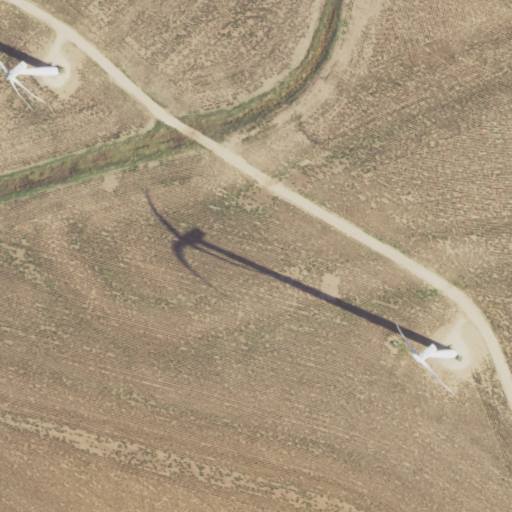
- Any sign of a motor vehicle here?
No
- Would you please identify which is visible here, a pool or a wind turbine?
wind turbine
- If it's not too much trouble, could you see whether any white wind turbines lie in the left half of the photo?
Yes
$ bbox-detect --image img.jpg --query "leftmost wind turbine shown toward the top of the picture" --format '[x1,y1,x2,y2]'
[0,60,59,110]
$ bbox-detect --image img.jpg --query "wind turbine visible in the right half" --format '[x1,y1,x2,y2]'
[392,316,458,399]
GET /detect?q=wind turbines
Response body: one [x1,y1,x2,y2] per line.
[0,60,59,110]
[392,316,458,399]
